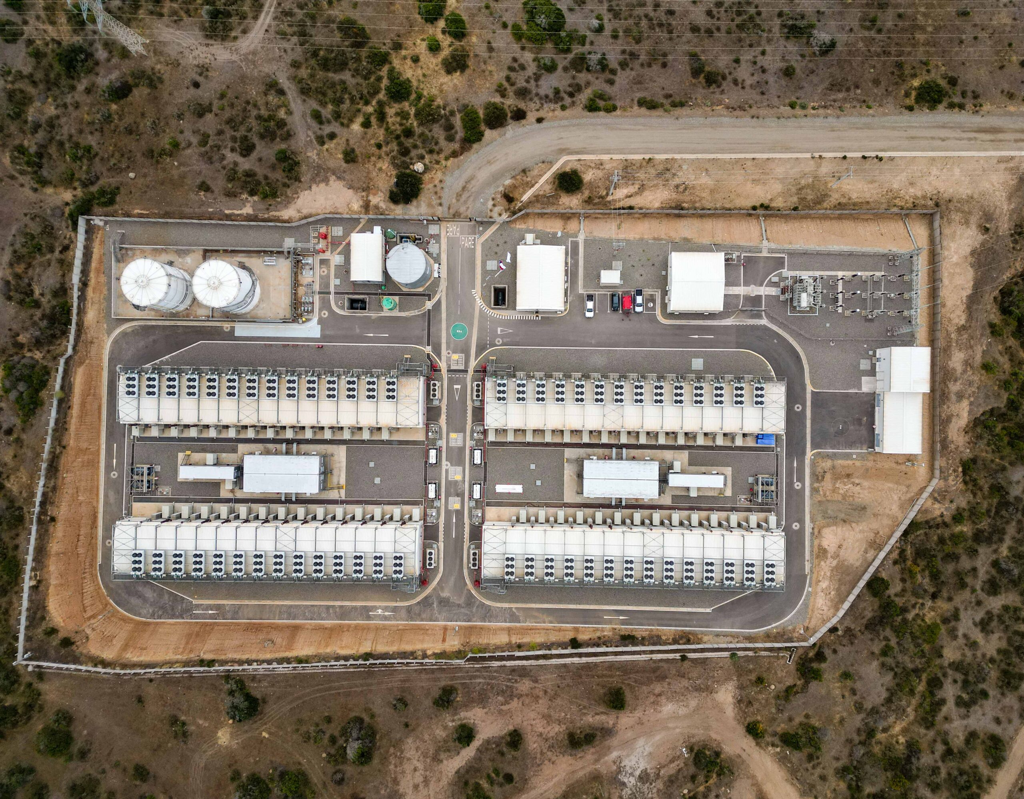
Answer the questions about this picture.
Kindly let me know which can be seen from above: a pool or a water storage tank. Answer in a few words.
water storage tank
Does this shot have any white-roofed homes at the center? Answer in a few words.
Yes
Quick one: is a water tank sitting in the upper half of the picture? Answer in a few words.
Yes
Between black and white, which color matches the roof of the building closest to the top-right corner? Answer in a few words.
white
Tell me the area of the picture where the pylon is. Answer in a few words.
top left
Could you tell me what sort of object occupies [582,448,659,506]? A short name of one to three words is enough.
house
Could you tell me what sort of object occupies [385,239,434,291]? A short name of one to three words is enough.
water tank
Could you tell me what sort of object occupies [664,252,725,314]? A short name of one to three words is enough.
building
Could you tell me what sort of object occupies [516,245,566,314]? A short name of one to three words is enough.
building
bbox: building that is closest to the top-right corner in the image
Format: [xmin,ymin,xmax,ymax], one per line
[876,347,931,392]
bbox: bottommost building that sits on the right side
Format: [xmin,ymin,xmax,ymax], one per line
[477,515,786,596]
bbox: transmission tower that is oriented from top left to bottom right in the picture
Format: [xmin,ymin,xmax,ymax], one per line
[63,0,152,57]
